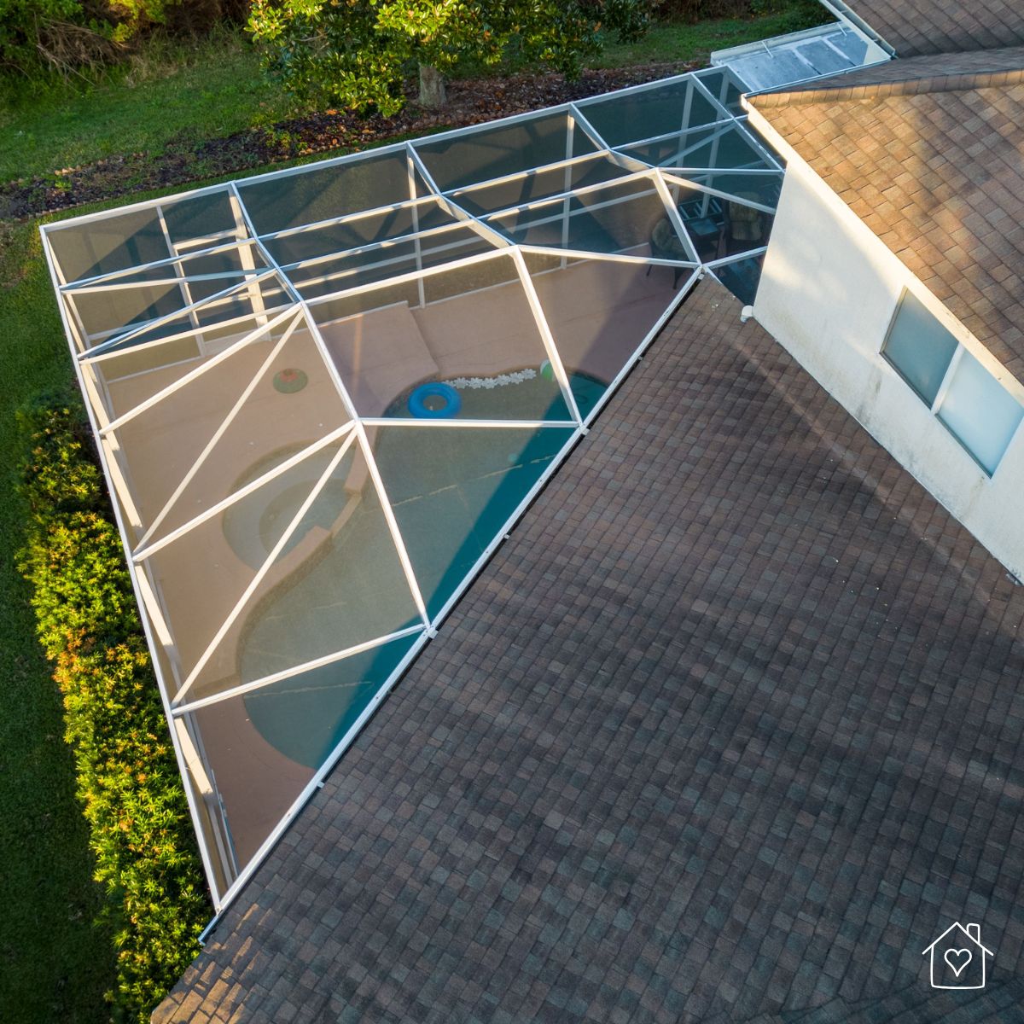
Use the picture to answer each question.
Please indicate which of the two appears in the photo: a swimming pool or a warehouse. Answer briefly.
swimming pool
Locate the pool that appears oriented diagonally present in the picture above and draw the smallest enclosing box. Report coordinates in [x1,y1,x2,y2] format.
[222,370,606,771]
